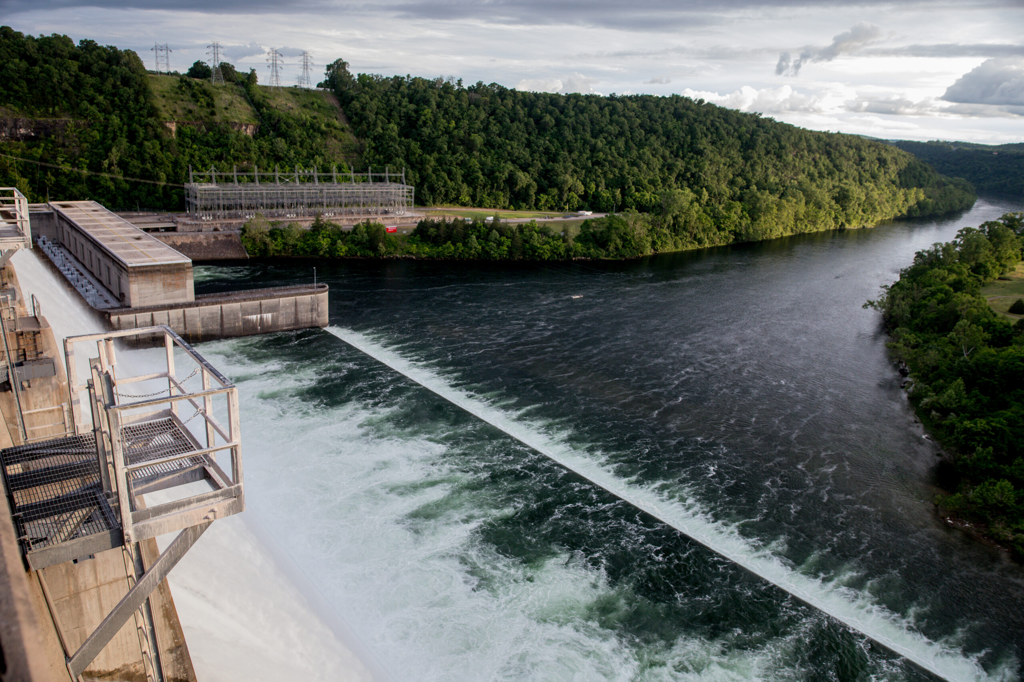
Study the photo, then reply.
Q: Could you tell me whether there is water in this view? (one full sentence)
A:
Yes, there is water in the image.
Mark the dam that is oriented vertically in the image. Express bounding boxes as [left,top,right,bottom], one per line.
[0,206,194,682]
